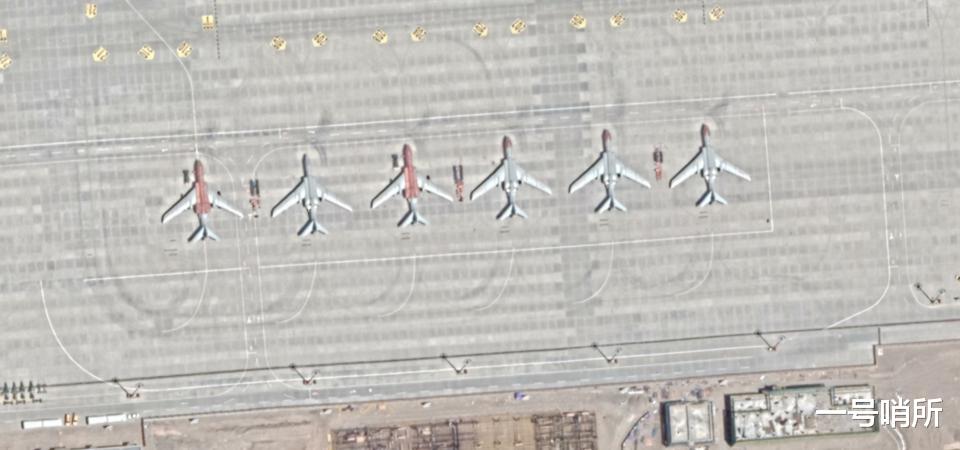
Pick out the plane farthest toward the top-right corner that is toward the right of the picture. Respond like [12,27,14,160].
[670,124,747,205]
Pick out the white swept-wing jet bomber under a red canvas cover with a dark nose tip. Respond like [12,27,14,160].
[163,159,241,242]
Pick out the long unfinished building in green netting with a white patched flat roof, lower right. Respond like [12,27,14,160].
[727,387,878,446]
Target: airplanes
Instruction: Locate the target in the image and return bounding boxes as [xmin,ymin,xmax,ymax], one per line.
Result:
[372,144,450,226]
[471,135,548,218]
[270,154,348,236]
[570,129,648,211]
[670,124,747,205]
[163,159,241,242]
